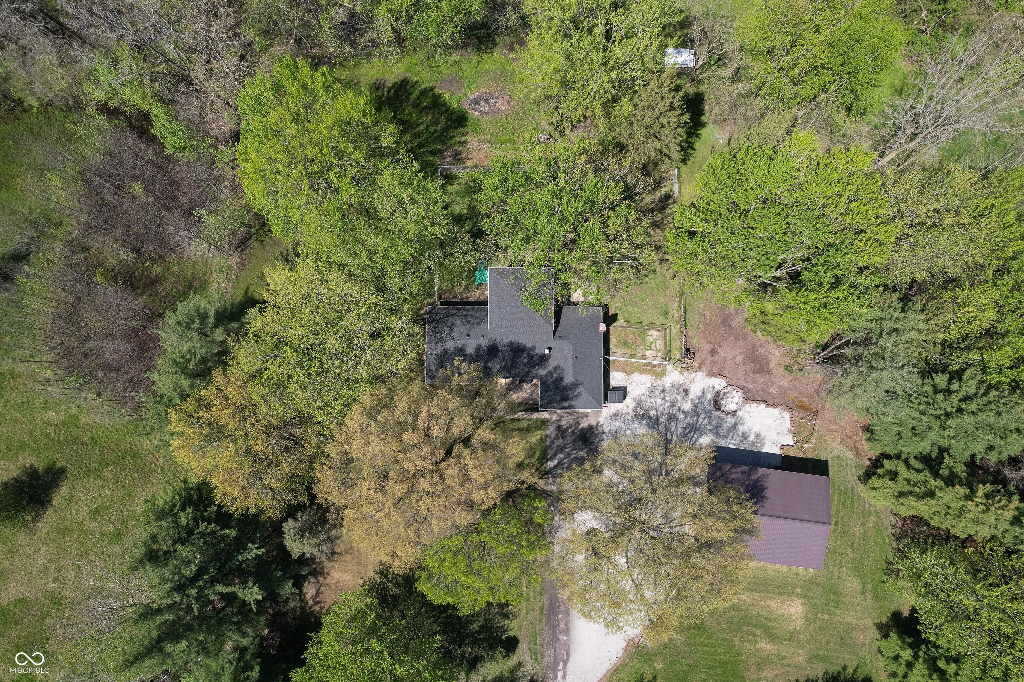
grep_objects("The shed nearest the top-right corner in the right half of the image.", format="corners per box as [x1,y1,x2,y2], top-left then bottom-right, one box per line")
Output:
[662,48,695,74]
